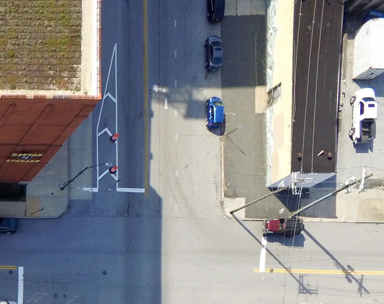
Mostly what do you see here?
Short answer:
paved ground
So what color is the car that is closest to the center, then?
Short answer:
blue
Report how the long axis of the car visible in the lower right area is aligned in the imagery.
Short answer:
from left to right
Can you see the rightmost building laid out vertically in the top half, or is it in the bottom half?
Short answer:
top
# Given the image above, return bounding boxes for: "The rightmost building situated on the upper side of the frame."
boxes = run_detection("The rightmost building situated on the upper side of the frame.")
[266,0,337,193]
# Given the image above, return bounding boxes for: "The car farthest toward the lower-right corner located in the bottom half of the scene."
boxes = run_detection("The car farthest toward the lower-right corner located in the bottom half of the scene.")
[261,215,309,236]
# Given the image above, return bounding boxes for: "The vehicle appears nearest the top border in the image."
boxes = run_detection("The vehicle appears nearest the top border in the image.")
[205,0,227,28]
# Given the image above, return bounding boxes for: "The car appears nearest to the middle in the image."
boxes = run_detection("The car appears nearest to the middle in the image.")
[205,97,226,131]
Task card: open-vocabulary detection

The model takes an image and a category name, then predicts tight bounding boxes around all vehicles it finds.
[204,35,225,72]
[351,90,378,144]
[261,215,309,236]
[205,97,226,131]
[205,0,227,28]
[0,217,19,235]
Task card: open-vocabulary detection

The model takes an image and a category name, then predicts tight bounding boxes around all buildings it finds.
[266,0,337,193]
[0,0,102,184]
